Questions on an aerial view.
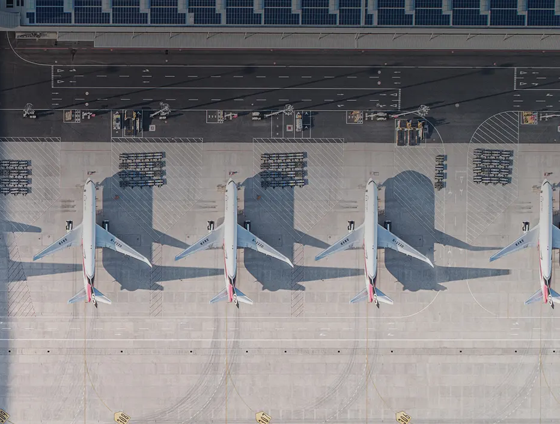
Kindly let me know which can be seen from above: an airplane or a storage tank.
airplane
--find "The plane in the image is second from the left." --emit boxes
[175,179,297,307]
